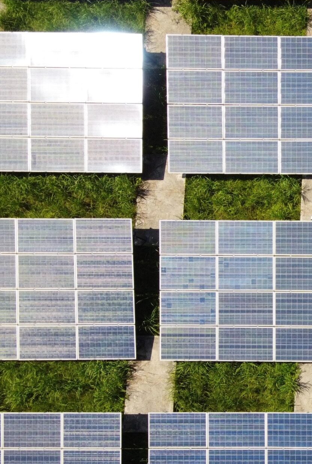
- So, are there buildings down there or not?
No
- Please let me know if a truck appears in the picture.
No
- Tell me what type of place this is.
solar farm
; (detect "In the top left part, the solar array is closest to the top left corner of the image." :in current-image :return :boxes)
[0,33,157,173]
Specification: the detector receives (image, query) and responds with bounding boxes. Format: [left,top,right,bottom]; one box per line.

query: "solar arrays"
[0,411,137,464]
[167,36,312,174]
[159,220,312,362]
[0,33,157,173]
[0,218,147,361]
[149,412,312,464]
